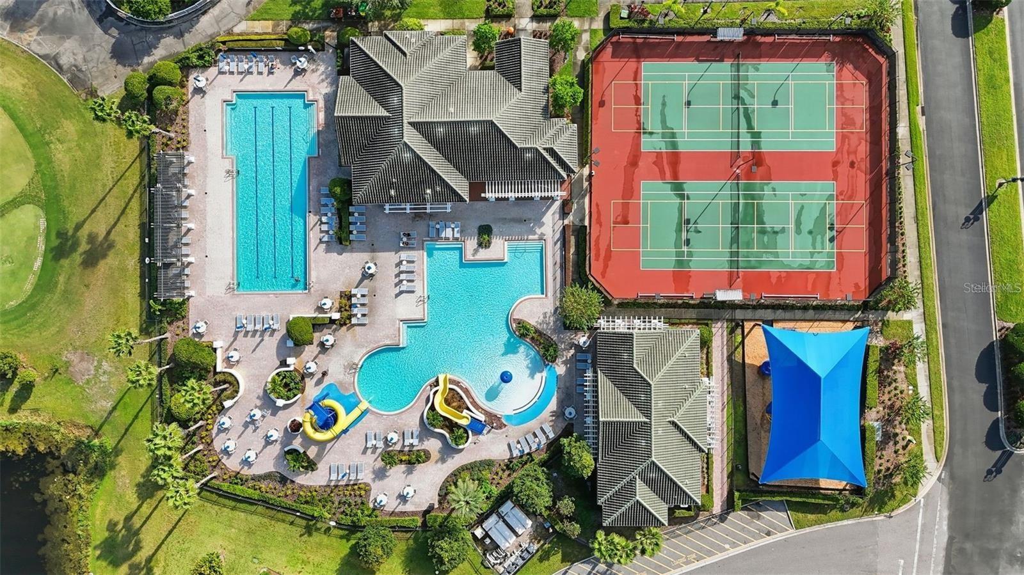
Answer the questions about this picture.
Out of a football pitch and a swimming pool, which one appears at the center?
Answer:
swimming pool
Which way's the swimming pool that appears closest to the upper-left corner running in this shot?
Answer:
vertically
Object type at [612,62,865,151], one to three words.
tennis court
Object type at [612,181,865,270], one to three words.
tennis court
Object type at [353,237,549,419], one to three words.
swimming pool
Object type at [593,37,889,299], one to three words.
sports court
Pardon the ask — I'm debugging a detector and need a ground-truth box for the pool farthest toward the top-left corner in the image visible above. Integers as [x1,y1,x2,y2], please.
[222,89,321,296]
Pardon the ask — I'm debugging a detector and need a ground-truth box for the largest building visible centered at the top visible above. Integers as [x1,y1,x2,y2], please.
[329,29,578,204]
